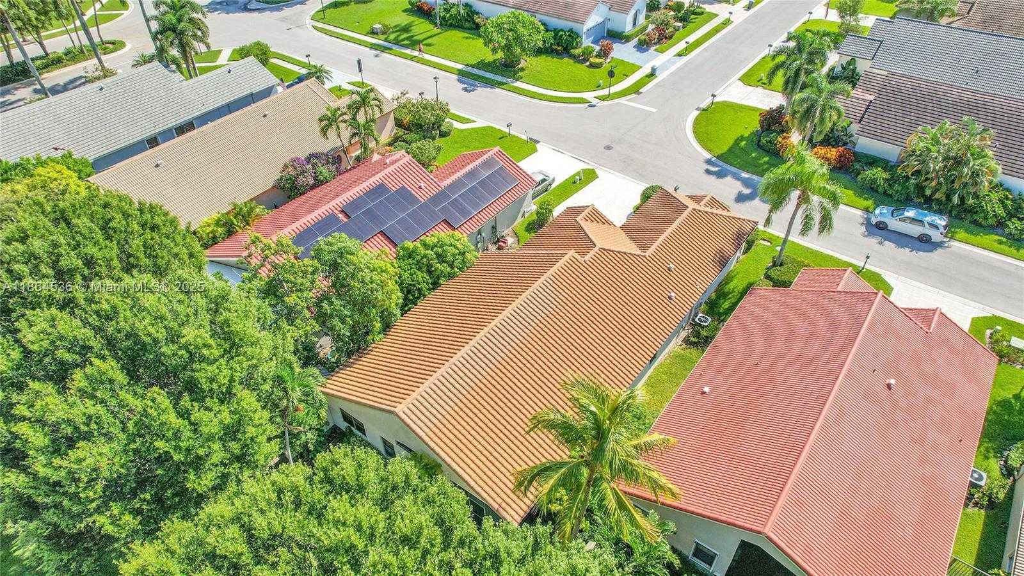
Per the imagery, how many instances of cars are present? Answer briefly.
2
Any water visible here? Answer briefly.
No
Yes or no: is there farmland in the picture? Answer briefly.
No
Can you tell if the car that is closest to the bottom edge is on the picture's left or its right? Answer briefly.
right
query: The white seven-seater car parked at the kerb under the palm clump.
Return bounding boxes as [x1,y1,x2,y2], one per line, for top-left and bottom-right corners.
[871,207,950,244]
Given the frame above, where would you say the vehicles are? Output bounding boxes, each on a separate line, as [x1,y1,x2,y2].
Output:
[528,175,562,210]
[871,207,950,244]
